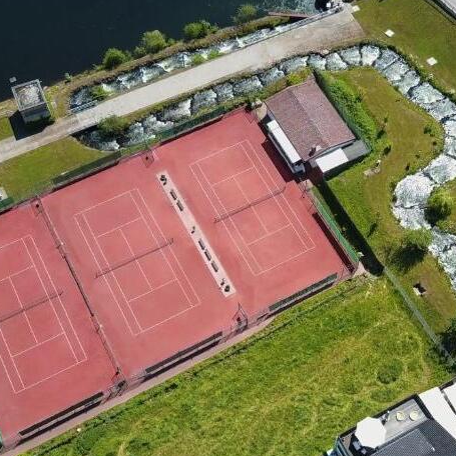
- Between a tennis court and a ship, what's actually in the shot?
tennis court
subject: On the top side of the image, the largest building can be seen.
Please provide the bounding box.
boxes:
[266,84,356,168]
